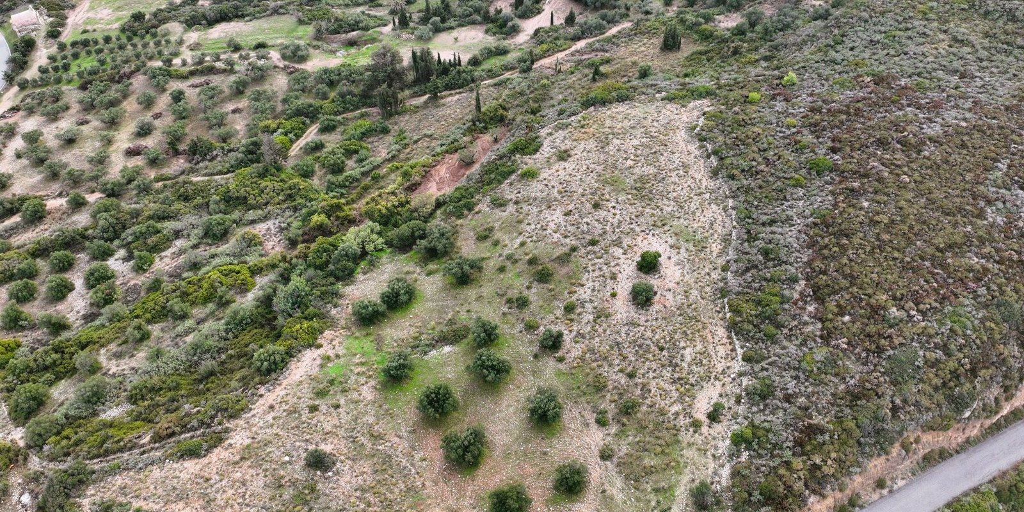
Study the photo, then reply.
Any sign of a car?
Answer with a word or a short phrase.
No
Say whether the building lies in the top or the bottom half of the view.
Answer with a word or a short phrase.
top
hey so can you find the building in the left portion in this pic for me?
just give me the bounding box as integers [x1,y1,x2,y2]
[5,3,51,30]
